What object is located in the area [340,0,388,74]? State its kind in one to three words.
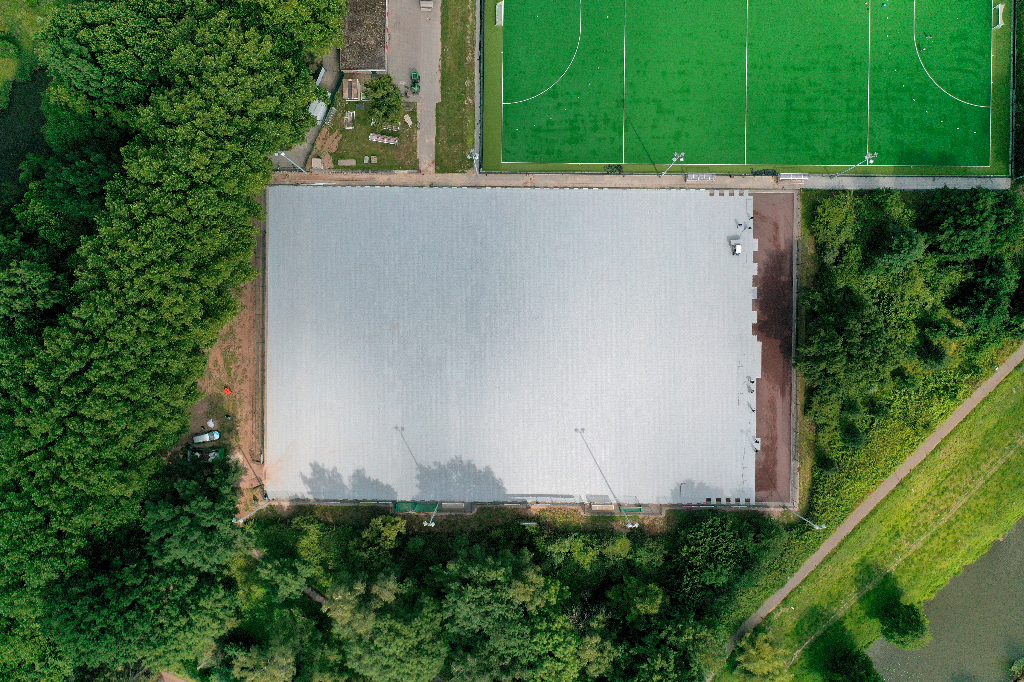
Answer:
building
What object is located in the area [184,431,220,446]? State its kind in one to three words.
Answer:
vehicle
